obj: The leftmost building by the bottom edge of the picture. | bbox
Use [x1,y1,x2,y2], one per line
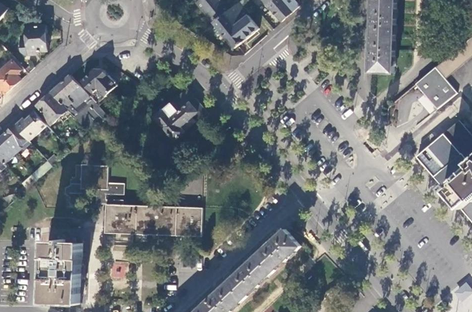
[34,241,84,306]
